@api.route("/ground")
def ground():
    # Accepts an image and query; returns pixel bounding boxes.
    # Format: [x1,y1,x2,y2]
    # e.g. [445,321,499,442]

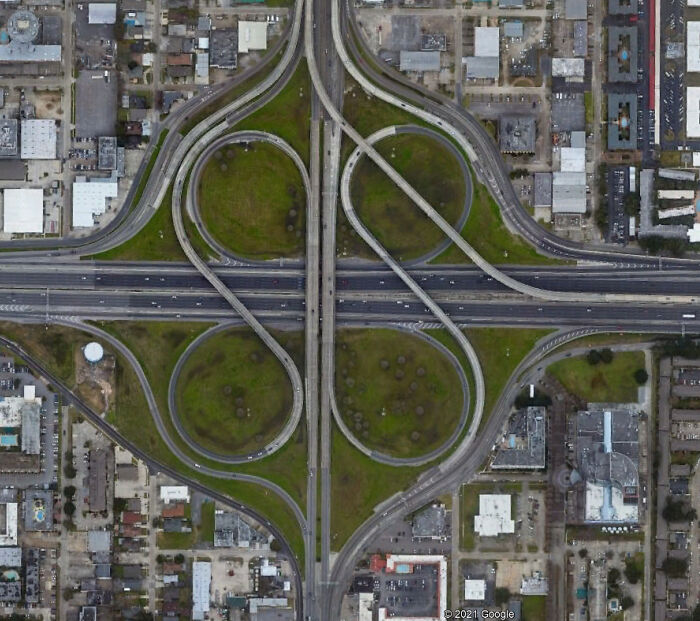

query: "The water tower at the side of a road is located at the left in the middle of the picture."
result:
[83,342,104,365]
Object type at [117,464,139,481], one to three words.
house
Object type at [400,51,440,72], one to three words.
shed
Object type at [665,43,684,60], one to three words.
building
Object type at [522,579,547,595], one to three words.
building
